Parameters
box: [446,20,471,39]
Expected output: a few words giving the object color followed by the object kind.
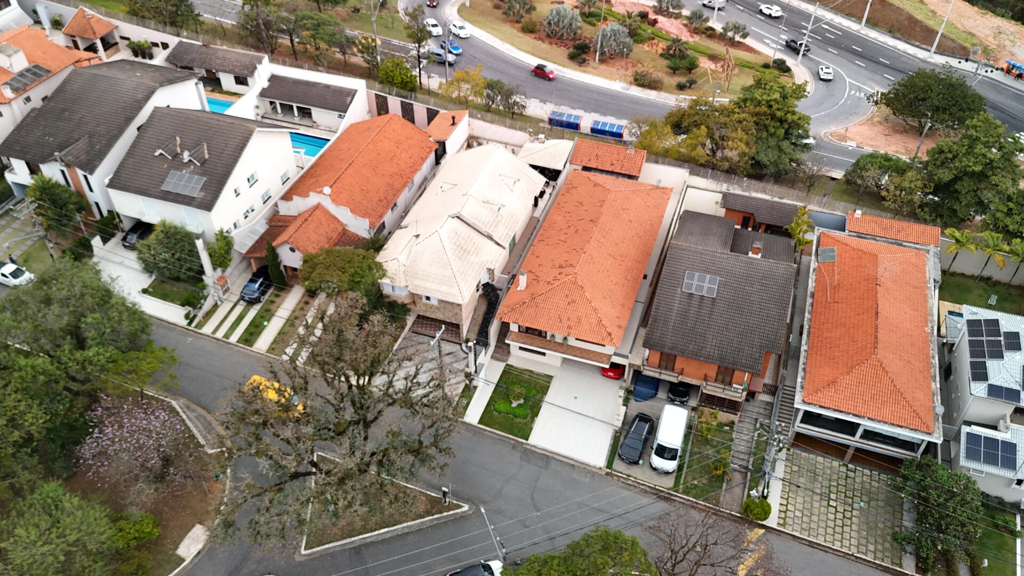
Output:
white car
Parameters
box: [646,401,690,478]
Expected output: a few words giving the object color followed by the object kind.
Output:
white van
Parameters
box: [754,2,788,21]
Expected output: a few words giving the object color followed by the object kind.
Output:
white car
